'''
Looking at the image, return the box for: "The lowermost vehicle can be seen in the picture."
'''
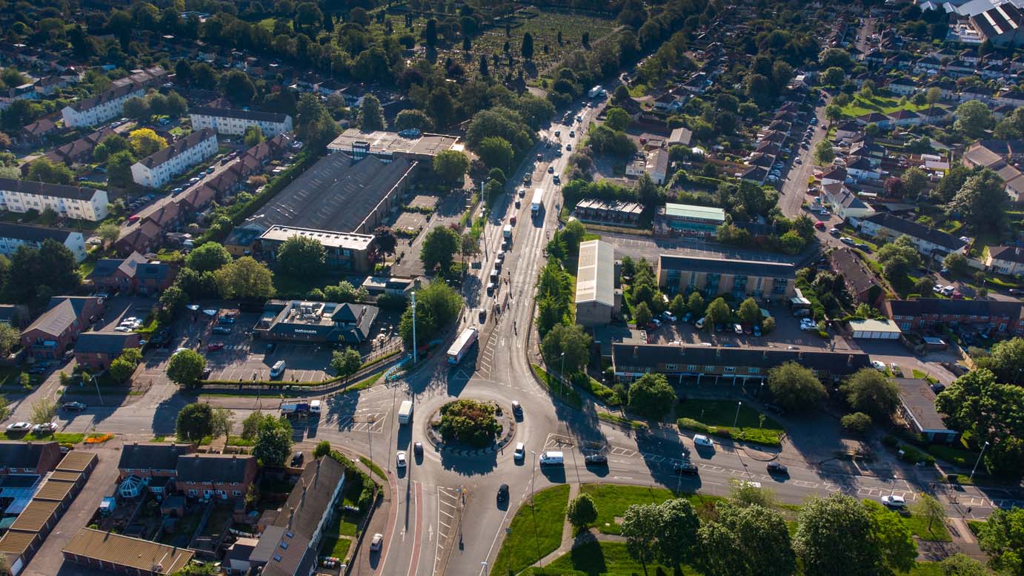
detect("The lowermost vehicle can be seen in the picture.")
[368,534,383,553]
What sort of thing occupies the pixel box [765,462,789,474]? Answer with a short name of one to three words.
vehicle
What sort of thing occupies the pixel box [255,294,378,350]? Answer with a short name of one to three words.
building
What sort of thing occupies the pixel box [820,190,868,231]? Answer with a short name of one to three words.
house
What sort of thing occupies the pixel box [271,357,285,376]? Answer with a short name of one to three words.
vehicle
